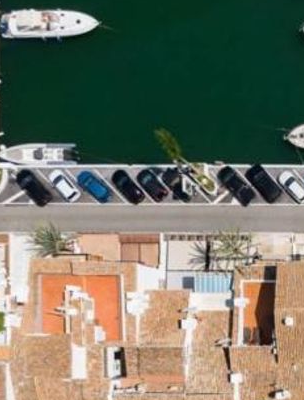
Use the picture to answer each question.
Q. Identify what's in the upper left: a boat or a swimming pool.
boat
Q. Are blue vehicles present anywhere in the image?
Yes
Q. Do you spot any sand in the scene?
No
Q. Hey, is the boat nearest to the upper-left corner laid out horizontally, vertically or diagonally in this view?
horizontally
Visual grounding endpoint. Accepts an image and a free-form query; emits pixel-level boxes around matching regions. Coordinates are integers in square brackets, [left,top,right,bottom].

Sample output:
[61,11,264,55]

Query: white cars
[52,171,81,202]
[279,170,304,205]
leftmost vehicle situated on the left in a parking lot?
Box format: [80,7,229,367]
[20,169,54,207]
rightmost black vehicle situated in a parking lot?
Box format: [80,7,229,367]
[247,166,282,203]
